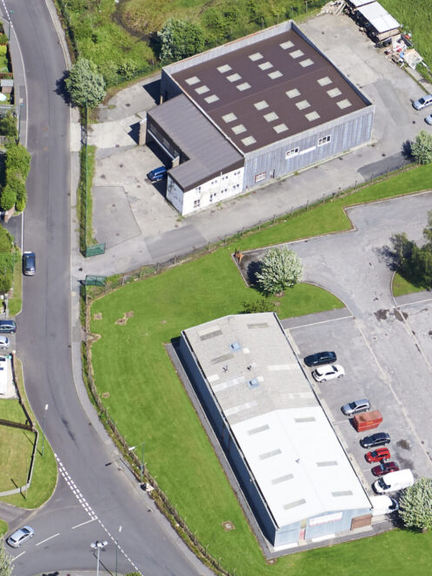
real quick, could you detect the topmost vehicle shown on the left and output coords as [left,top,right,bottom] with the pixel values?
[144,166,171,183]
